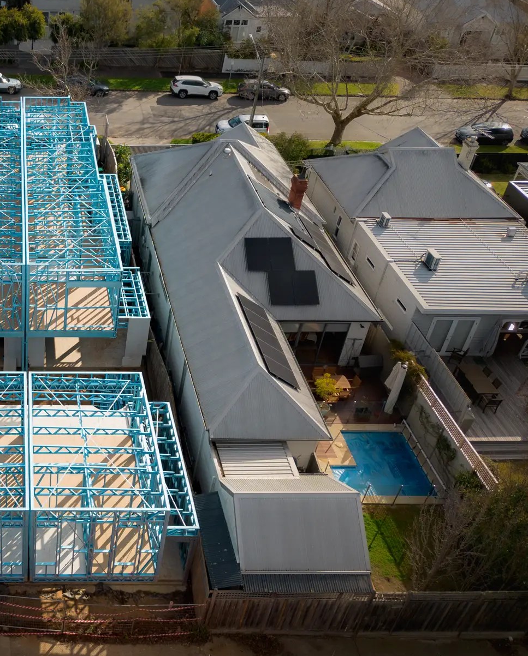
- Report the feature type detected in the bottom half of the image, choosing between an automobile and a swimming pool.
swimming pool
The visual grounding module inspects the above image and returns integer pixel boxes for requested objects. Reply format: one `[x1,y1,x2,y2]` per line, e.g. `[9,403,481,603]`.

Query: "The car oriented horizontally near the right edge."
[446,115,520,144]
